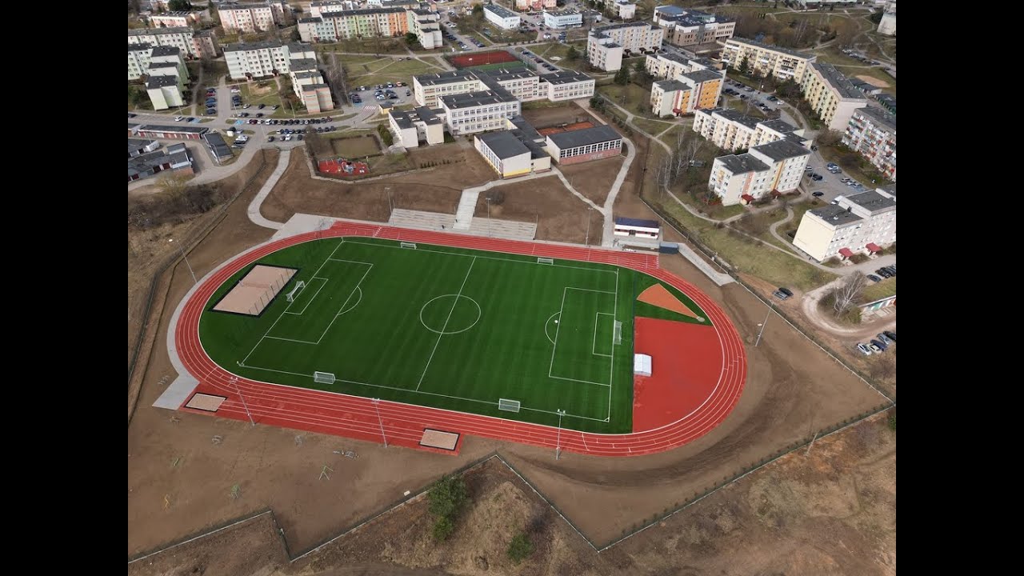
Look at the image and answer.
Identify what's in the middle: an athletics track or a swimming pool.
athletics track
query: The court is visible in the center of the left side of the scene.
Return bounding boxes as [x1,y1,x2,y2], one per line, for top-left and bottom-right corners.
[210,264,299,318]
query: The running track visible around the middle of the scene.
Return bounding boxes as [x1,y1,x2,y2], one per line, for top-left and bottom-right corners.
[176,227,746,455]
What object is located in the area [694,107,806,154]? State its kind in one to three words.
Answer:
building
